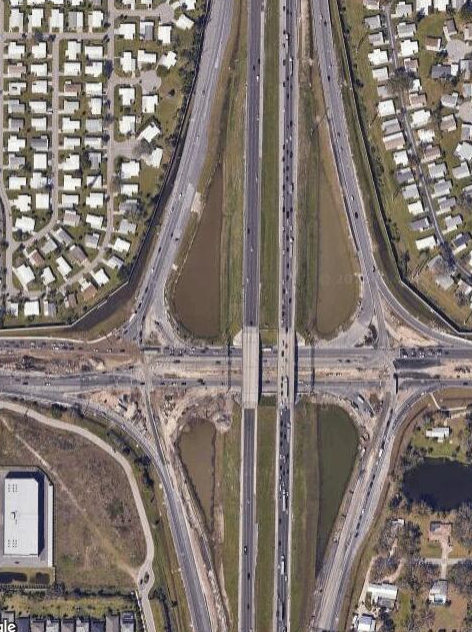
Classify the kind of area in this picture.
residential area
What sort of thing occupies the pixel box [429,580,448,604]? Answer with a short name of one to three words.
house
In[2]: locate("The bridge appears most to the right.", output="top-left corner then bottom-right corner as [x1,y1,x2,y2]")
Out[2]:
[276,326,295,409]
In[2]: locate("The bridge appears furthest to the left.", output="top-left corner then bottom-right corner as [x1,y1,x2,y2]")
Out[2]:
[241,326,259,409]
